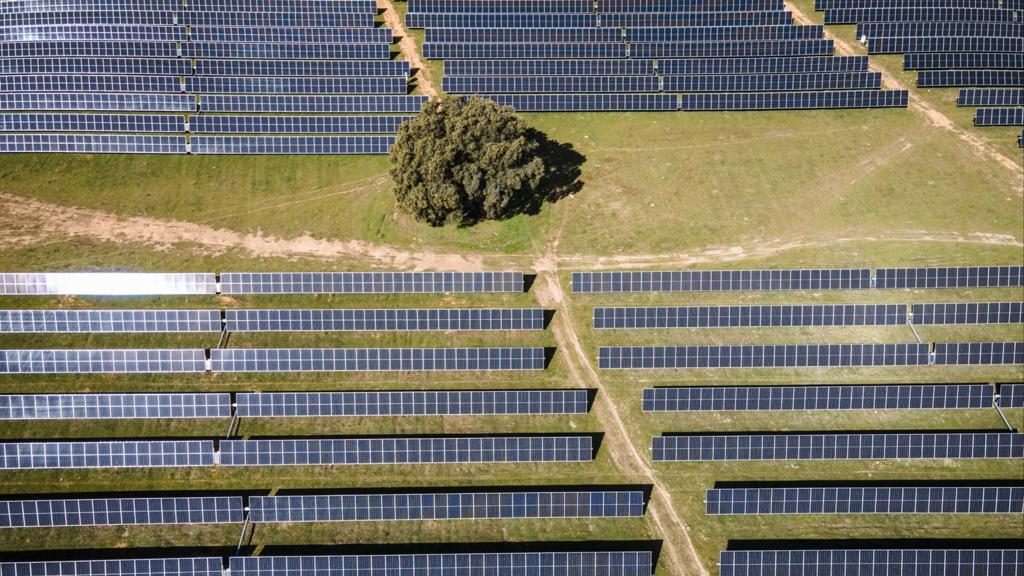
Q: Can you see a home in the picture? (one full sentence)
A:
No, I can see no home in this picture.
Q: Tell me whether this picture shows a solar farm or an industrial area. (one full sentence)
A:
This image shows a solar farm.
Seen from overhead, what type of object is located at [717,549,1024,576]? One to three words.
solar array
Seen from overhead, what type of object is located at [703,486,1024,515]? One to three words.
solar array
